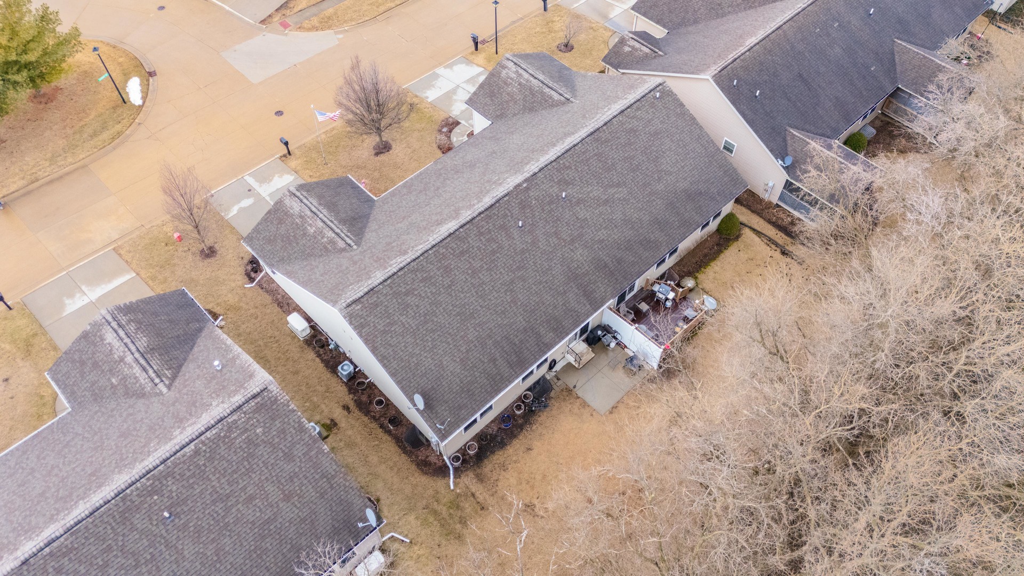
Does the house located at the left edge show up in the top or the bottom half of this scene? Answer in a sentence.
You can find the house located at the left edge in the bottom half.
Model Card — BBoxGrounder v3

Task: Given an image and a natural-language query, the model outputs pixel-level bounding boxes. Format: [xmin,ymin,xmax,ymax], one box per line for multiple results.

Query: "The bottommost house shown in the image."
[0,287,409,576]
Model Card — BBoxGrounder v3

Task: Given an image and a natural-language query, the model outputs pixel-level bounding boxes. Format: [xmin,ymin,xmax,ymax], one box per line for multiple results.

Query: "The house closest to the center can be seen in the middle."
[242,53,751,489]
